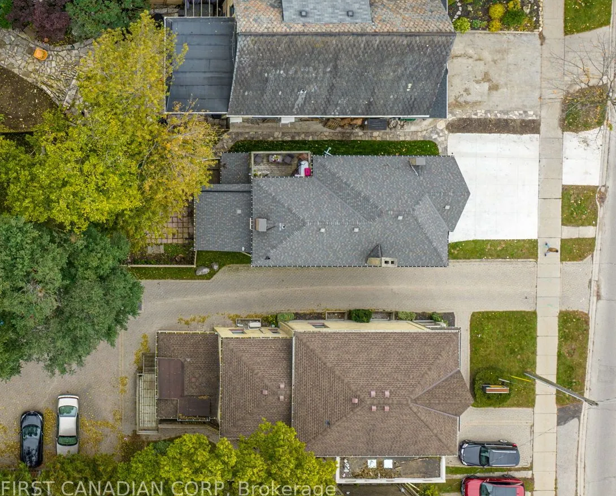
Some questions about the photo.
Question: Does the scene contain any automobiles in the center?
No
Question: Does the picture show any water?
No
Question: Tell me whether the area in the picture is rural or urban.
urban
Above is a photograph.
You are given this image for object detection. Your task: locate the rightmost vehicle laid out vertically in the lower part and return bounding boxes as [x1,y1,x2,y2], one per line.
[53,393,83,458]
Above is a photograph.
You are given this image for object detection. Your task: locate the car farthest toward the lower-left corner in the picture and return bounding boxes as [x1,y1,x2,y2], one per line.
[17,408,45,469]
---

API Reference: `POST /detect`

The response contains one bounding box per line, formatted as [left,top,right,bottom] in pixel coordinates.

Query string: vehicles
[459,472,524,496]
[17,408,45,469]
[53,393,83,458]
[457,437,521,469]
